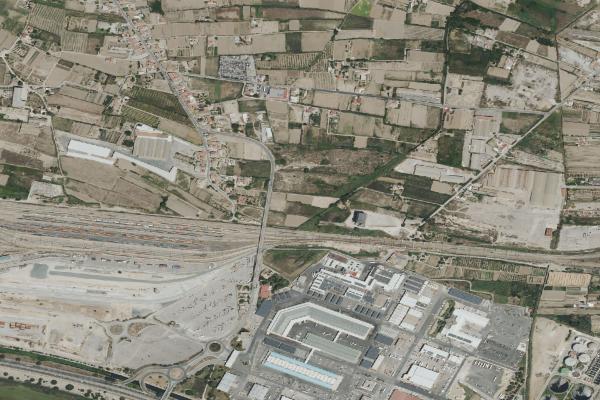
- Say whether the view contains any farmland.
Yes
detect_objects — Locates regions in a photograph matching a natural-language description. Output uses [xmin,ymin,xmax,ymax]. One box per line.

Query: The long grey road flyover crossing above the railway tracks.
[253,184,274,298]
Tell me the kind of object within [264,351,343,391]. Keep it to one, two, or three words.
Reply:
building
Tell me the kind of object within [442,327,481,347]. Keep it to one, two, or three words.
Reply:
building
